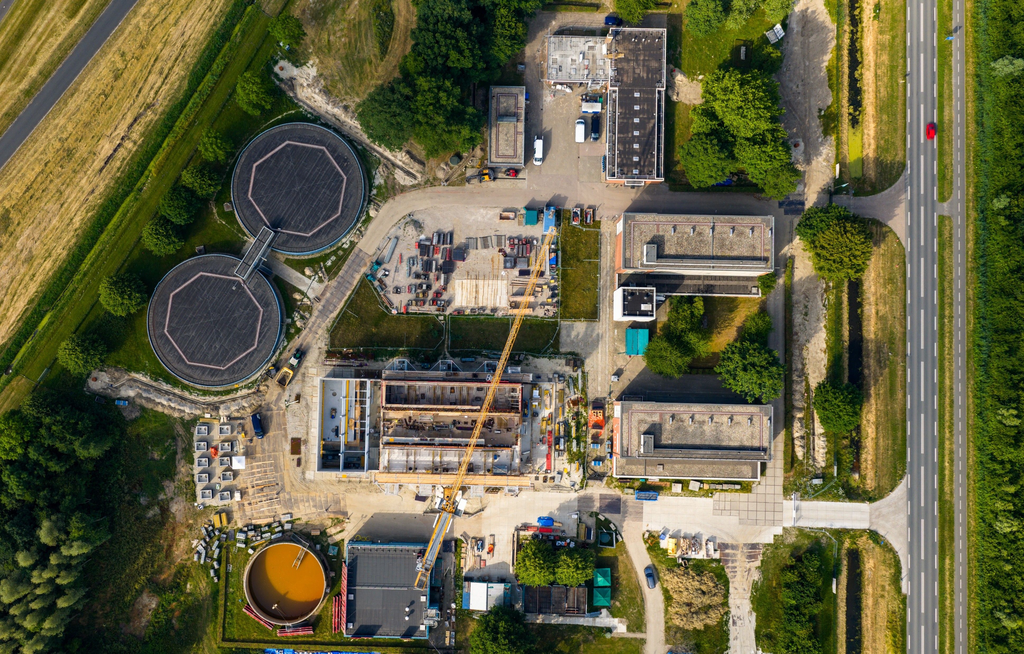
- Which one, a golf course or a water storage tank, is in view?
water storage tank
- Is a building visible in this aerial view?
Yes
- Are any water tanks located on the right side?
No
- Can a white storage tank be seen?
No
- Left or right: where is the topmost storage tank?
left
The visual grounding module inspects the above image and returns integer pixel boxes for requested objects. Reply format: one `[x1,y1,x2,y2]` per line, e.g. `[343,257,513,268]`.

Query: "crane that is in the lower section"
[417,228,558,591]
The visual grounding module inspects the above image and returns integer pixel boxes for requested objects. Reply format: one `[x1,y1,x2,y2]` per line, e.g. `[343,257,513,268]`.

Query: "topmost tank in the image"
[231,121,369,258]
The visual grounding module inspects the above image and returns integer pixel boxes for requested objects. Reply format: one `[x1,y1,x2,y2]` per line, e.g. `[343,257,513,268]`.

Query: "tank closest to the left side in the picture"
[147,252,286,389]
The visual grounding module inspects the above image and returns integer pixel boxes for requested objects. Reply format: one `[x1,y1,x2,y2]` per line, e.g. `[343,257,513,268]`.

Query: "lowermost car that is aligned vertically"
[643,566,655,589]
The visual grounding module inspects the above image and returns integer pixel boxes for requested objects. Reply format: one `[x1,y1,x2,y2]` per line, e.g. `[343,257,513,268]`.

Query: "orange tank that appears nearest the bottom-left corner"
[244,534,329,631]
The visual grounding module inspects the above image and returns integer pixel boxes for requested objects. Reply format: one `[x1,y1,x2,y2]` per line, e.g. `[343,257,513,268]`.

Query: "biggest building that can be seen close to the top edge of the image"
[602,28,666,188]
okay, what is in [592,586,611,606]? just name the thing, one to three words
tent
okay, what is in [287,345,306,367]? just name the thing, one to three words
work vehicle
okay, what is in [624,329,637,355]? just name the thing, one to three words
shed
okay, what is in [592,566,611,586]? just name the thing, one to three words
tent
